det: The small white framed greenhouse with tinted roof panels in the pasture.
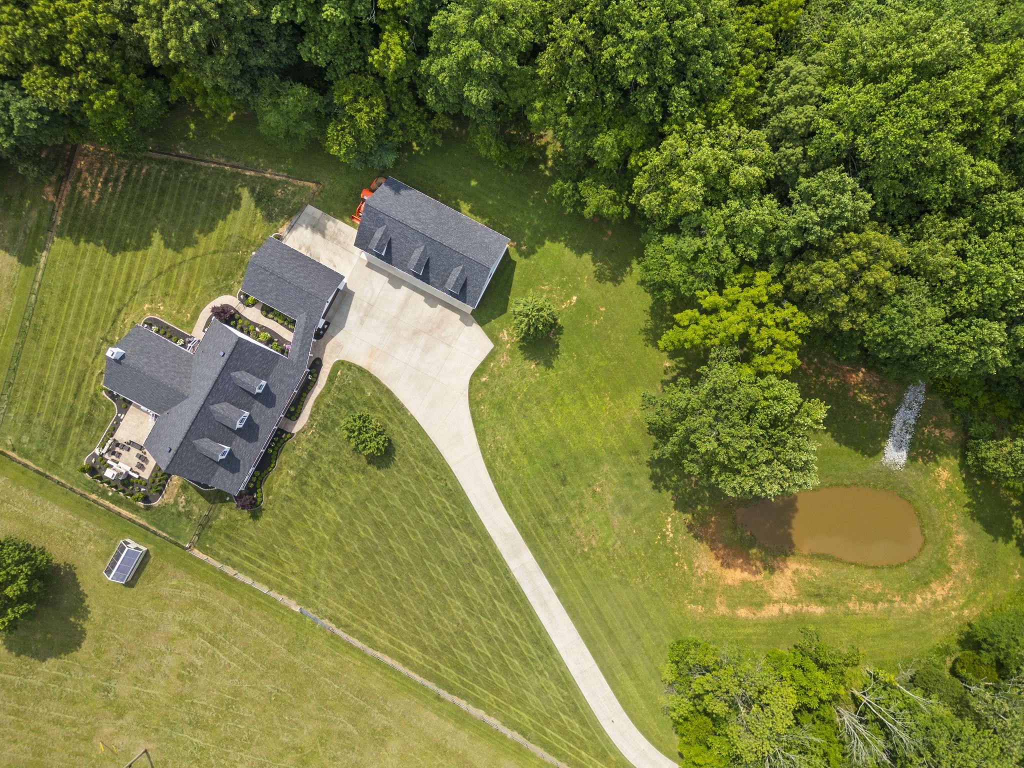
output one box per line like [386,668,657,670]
[102,538,147,585]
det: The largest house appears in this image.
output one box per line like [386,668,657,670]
[103,236,346,494]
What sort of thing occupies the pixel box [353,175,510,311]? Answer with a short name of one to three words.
barn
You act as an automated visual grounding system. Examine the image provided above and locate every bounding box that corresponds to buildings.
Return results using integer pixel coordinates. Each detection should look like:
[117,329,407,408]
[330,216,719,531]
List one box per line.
[103,236,346,494]
[353,175,510,311]
[102,538,147,585]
